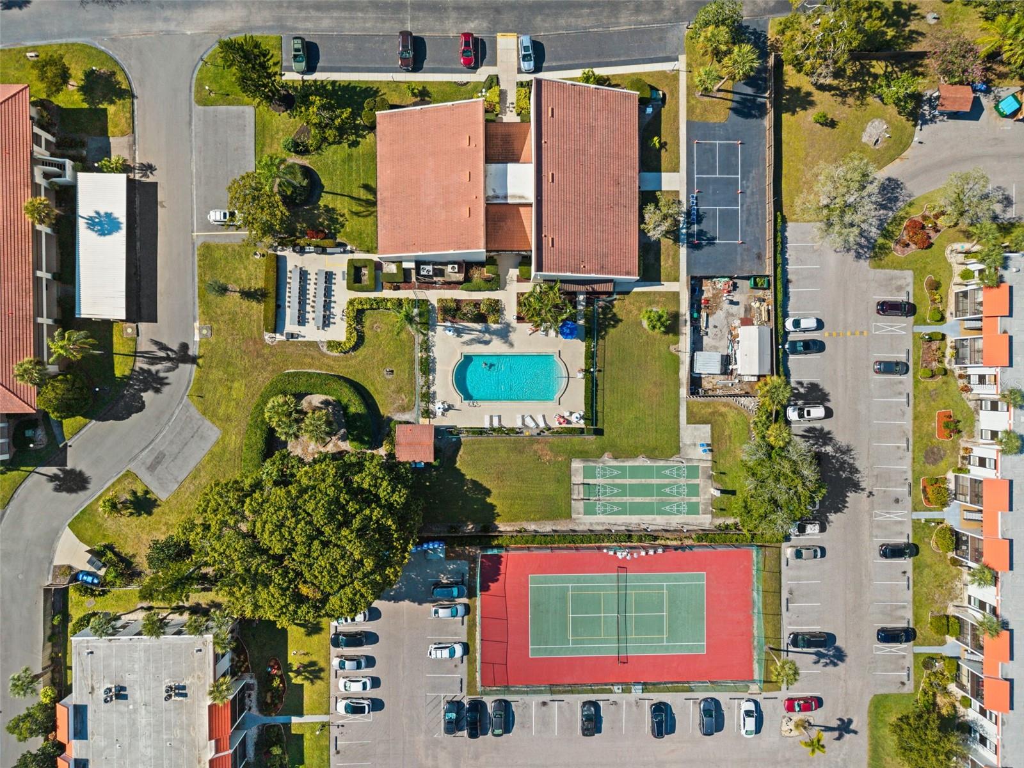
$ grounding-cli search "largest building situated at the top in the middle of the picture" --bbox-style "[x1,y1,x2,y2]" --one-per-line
[376,76,639,294]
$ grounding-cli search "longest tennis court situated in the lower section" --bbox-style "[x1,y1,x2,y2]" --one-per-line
[479,546,756,687]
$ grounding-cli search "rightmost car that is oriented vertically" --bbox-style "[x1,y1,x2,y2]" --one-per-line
[740,697,758,737]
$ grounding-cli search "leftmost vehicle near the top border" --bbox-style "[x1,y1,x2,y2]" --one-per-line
[289,36,308,75]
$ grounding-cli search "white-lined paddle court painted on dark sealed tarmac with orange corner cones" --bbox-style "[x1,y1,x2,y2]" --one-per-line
[695,141,740,242]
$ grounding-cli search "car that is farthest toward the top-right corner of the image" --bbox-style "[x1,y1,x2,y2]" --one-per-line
[874,300,913,317]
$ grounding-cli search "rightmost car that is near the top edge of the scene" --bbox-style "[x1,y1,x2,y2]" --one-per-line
[518,35,535,74]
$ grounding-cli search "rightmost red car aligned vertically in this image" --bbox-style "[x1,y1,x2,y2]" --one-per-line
[459,32,475,71]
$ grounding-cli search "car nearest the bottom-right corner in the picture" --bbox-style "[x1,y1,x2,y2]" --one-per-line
[876,626,914,644]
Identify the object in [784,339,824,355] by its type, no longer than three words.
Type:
vehicle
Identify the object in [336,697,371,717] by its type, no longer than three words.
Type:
car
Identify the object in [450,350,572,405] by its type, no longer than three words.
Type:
swimming pool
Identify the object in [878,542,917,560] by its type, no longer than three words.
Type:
car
